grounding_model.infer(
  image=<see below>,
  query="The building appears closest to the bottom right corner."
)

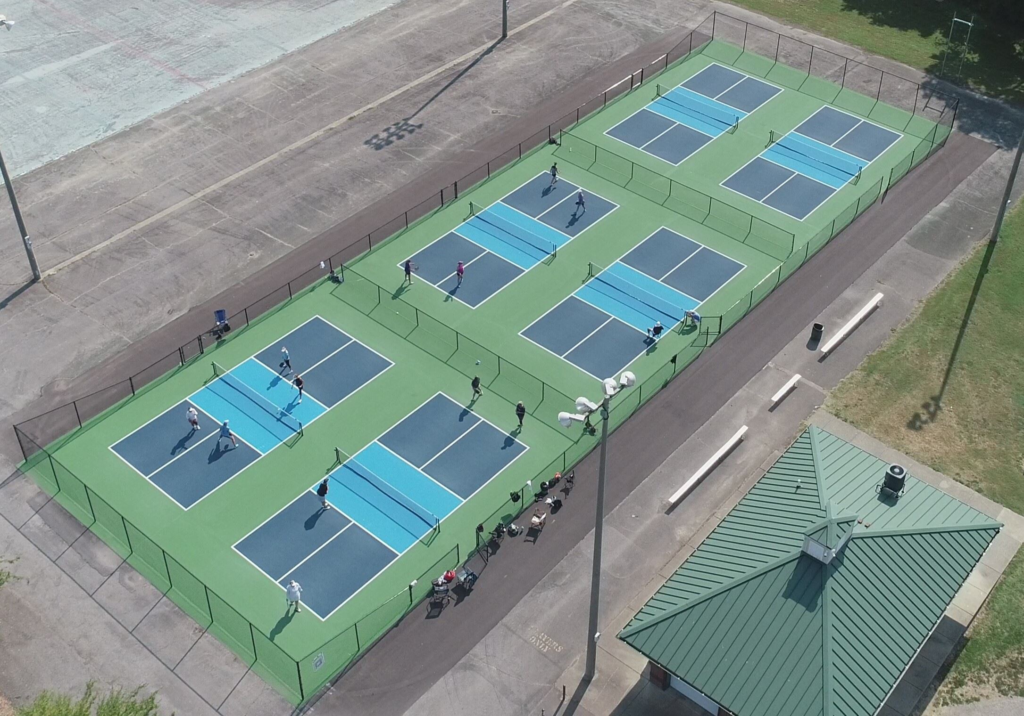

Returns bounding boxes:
[612,423,1010,716]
